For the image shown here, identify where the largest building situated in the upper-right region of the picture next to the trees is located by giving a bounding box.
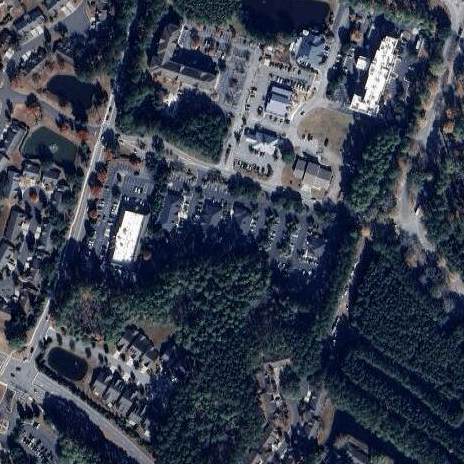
[350,36,404,113]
